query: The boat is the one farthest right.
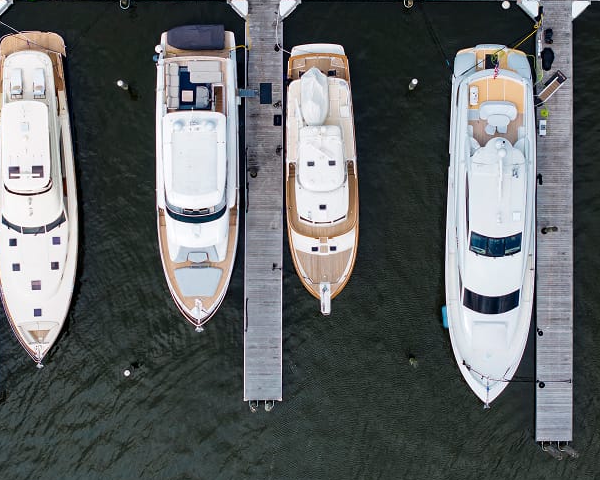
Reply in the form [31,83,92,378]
[444,45,538,412]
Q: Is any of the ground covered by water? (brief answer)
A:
Yes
